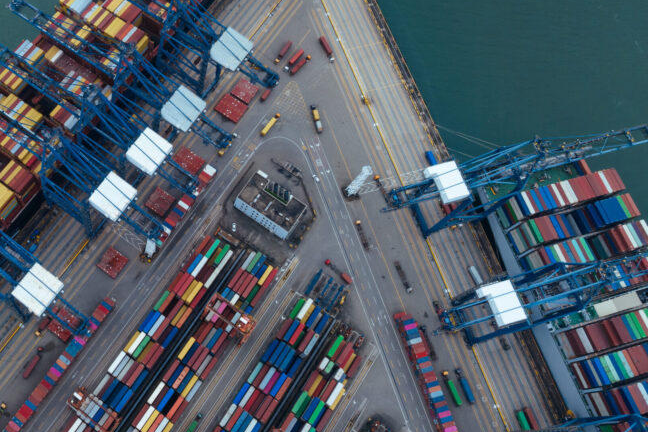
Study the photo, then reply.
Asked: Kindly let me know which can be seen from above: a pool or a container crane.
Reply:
container crane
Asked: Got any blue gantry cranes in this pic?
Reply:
Yes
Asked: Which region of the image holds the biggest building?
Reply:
center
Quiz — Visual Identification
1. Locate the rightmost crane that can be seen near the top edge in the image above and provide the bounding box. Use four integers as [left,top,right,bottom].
[127,0,278,101]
